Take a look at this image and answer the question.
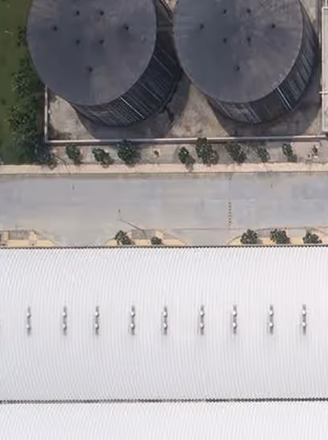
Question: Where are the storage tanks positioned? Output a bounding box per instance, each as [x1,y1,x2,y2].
[172,0,320,125]
[25,0,182,129]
